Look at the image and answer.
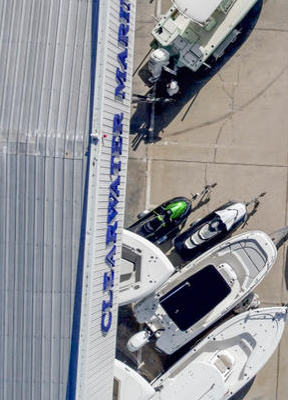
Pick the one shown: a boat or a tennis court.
boat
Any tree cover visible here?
No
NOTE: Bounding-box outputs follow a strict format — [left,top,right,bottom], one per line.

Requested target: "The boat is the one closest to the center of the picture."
[130,197,195,242]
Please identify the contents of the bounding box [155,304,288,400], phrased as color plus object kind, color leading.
white boat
